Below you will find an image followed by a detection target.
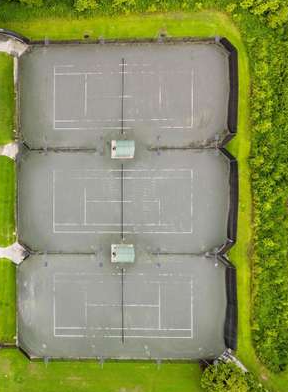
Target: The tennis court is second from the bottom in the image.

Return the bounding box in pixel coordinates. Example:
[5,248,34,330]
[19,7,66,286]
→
[20,148,230,253]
